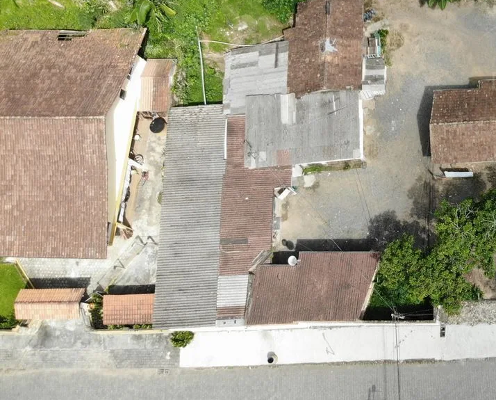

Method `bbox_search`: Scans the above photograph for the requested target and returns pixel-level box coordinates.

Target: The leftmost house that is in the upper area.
[0,28,148,259]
